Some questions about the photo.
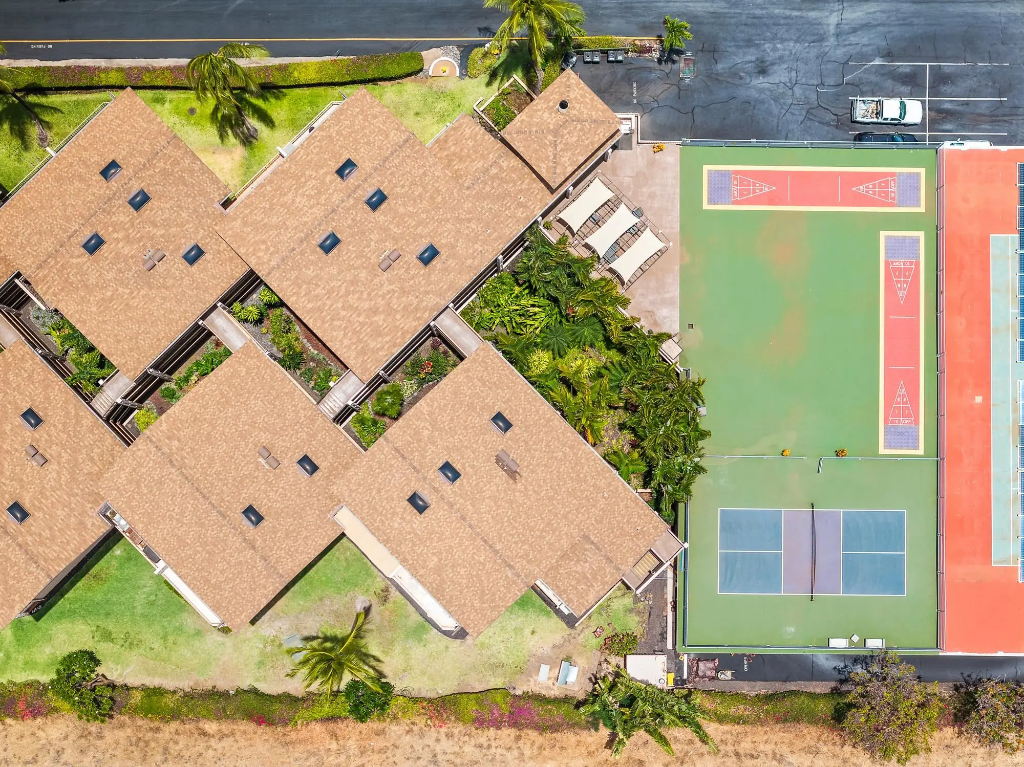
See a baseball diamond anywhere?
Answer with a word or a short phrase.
No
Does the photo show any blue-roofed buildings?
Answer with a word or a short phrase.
No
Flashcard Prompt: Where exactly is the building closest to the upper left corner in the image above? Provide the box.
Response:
[0,88,270,392]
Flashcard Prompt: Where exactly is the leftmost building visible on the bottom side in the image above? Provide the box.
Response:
[0,339,144,631]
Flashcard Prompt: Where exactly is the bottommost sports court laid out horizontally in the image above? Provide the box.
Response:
[718,508,906,596]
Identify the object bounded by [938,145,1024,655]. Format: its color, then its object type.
red tennis court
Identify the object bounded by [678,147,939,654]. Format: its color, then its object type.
green sports court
